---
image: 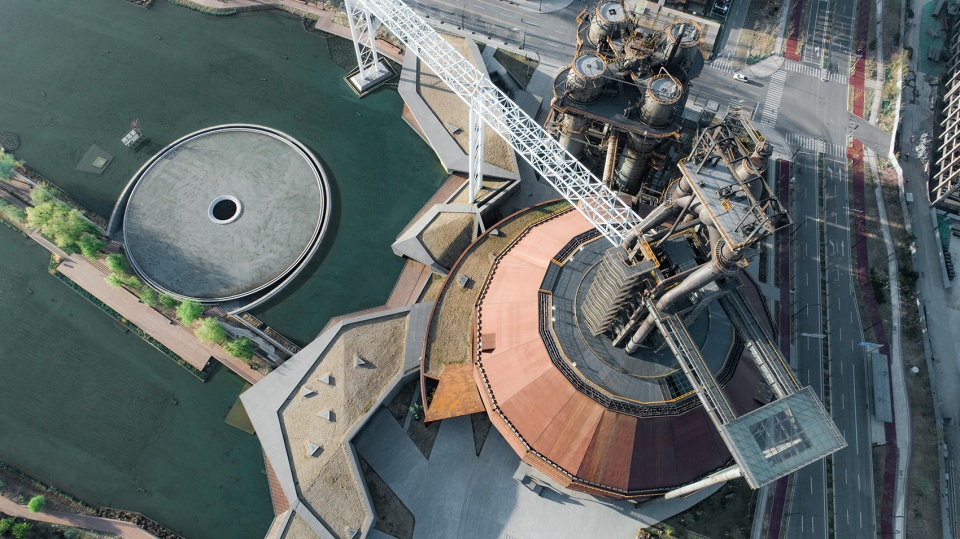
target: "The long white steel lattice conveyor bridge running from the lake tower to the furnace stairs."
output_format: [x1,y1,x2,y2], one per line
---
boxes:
[338,0,640,246]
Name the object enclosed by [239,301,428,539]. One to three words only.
building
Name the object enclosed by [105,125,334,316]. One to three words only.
building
